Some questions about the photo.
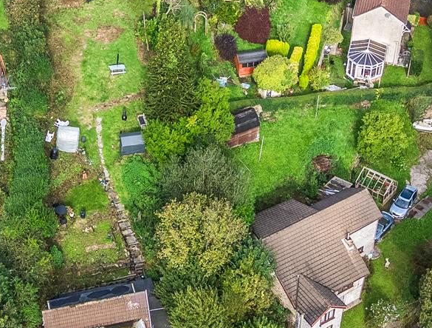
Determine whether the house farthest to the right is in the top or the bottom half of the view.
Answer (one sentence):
Seen from above, the house farthest to the right lies in the top half of the view.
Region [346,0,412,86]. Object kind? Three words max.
house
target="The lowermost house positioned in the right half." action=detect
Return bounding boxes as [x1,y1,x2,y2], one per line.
[242,181,384,328]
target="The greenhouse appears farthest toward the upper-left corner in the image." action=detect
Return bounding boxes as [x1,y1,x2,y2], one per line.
[57,121,84,152]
